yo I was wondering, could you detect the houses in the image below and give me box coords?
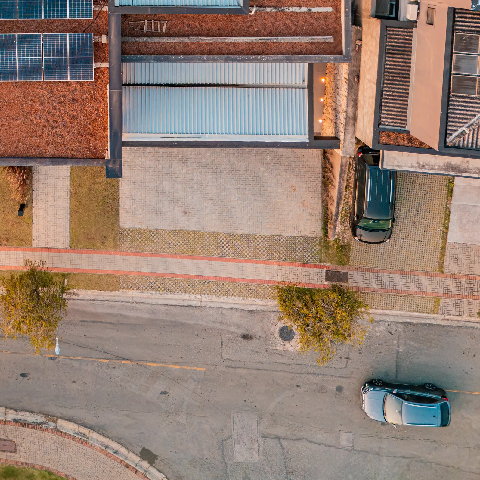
[0,0,352,178]
[354,0,480,178]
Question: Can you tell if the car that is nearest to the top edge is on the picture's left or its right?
right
